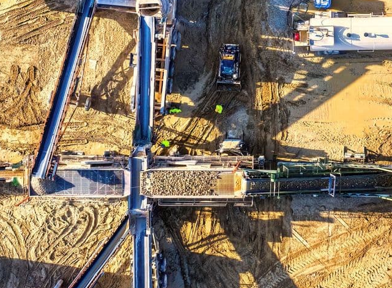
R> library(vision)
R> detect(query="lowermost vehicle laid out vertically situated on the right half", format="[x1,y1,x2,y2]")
[222,100,249,156]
